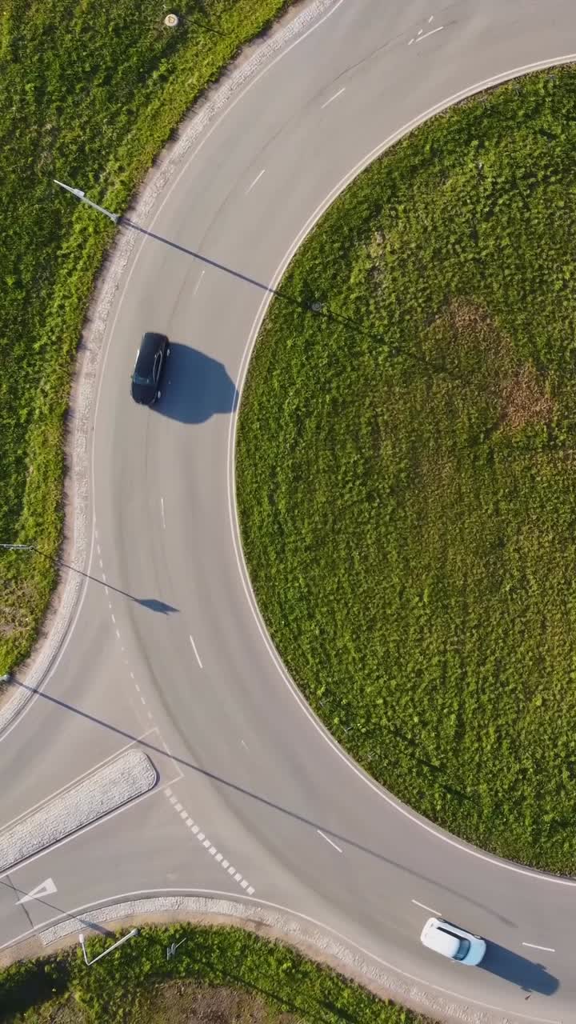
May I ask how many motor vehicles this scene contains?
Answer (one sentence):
The photo contains 2 motor vehicles.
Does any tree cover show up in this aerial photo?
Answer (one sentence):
No, there's no tree cover in this view.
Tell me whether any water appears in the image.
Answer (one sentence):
No, there's no water in this view.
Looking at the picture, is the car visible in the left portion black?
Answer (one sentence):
Yes, the car visible in the left portion is black.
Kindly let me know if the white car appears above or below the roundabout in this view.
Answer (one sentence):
Within the scene, the white car can be found below the roundabout.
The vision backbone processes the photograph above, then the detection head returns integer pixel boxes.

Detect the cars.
[422,917,486,966]
[127,332,170,406]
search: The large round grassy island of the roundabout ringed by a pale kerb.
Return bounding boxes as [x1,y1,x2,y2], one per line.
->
[233,61,576,879]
